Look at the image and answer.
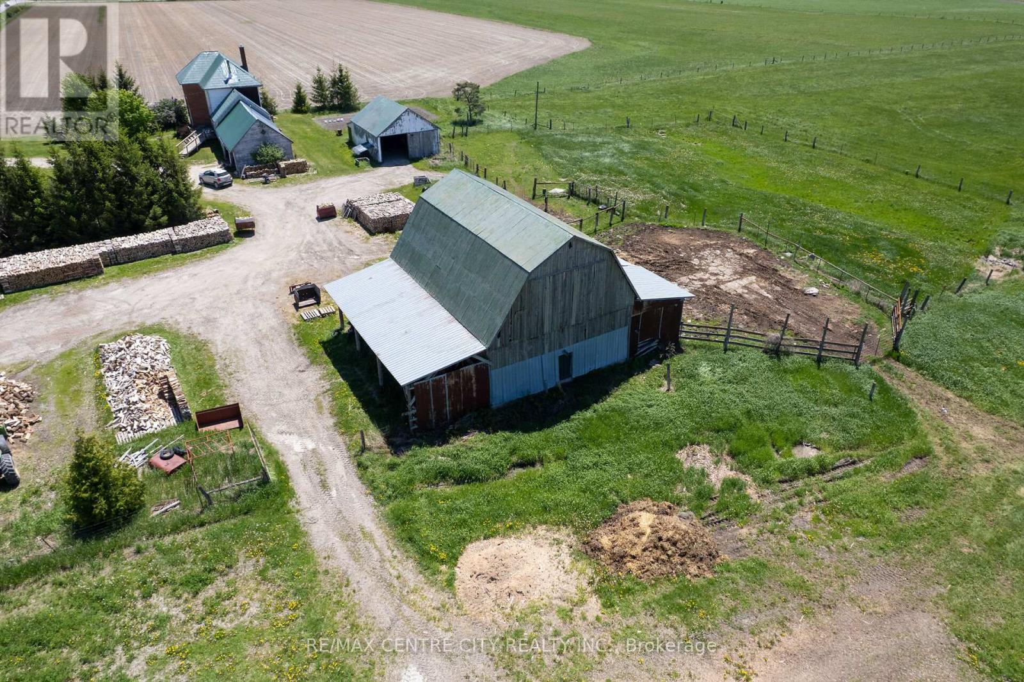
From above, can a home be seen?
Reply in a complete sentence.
Yes, there is a home in the image.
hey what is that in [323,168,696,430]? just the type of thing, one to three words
barn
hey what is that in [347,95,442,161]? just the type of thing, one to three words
shed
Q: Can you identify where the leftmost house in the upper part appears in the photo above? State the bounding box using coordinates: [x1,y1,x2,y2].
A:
[171,48,300,171]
